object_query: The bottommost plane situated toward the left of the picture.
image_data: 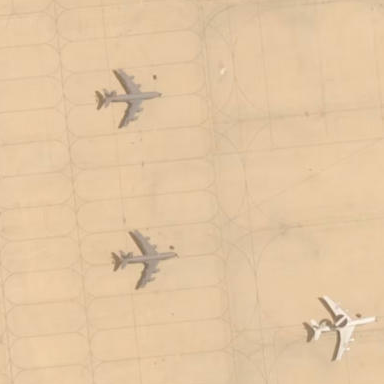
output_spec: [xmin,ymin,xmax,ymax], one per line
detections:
[119,230,177,288]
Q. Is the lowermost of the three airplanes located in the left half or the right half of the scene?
right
